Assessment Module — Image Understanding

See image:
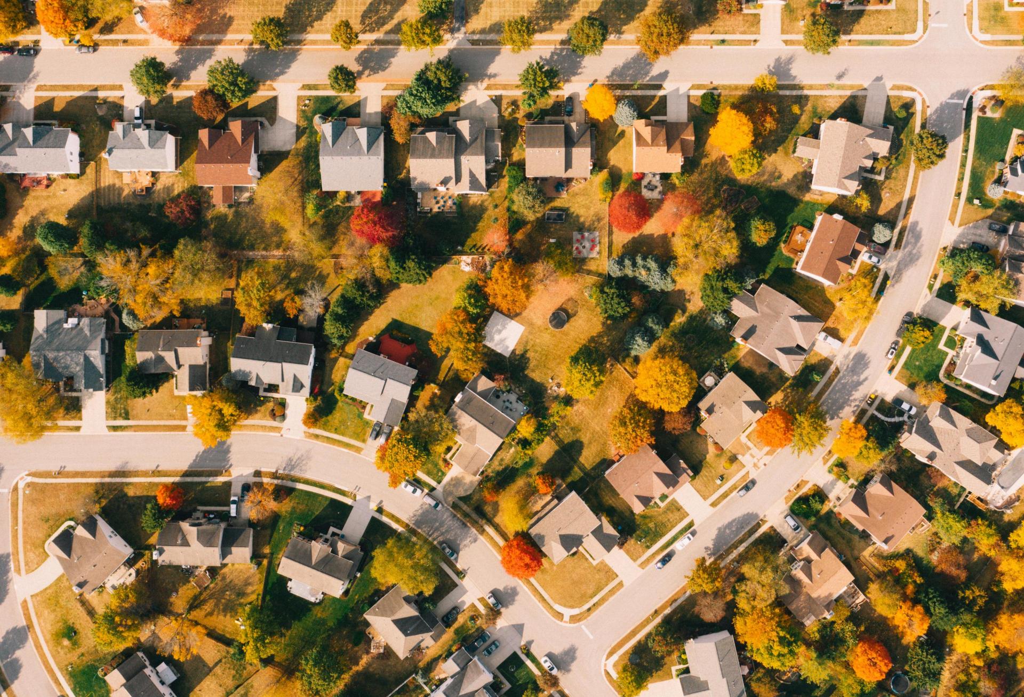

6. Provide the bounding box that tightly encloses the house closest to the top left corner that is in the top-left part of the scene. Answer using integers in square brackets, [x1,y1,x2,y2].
[0,120,78,174]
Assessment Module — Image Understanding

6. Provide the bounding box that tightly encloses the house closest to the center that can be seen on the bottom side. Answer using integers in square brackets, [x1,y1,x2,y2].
[444,372,515,477]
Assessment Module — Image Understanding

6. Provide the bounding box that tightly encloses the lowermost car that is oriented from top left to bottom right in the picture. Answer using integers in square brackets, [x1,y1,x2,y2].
[540,655,556,674]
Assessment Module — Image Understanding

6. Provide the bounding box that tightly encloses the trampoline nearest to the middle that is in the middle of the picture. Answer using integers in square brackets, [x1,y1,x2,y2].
[549,310,567,328]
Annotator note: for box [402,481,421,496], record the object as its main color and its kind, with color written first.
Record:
white car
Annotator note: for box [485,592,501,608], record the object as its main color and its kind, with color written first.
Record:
white car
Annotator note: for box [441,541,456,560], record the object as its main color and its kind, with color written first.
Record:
gray car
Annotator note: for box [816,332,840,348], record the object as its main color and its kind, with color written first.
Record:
white vehicle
